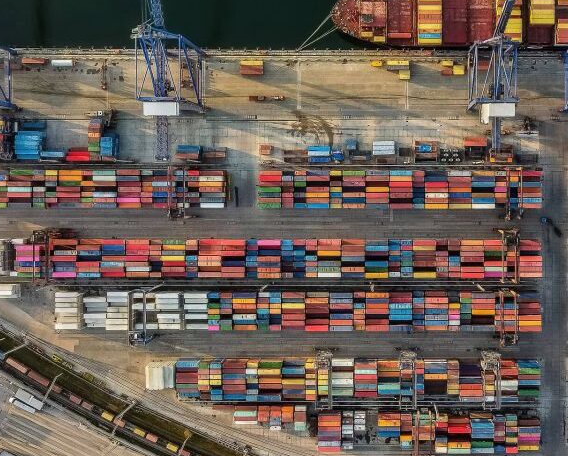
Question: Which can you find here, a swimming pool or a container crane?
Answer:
container crane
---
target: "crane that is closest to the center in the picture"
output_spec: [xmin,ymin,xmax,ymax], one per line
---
[166,165,200,220]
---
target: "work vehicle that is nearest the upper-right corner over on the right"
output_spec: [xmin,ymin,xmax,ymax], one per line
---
[524,119,537,141]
